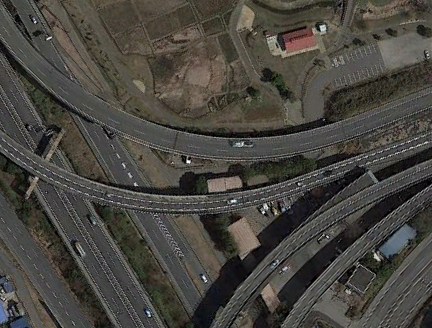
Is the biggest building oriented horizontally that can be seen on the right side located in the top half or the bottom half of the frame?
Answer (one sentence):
The top half of the photo is where the biggest building oriented horizontally that can be seen on the right side is.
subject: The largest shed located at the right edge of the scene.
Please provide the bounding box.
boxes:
[377,223,417,261]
